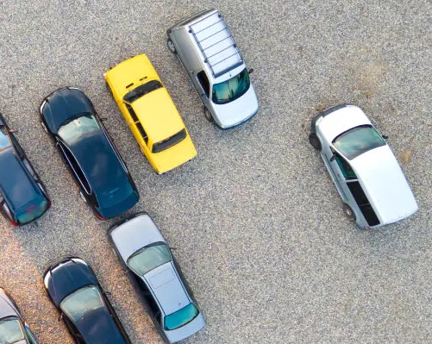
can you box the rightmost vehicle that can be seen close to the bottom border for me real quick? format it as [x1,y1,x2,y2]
[109,215,207,342]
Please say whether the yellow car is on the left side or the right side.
left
